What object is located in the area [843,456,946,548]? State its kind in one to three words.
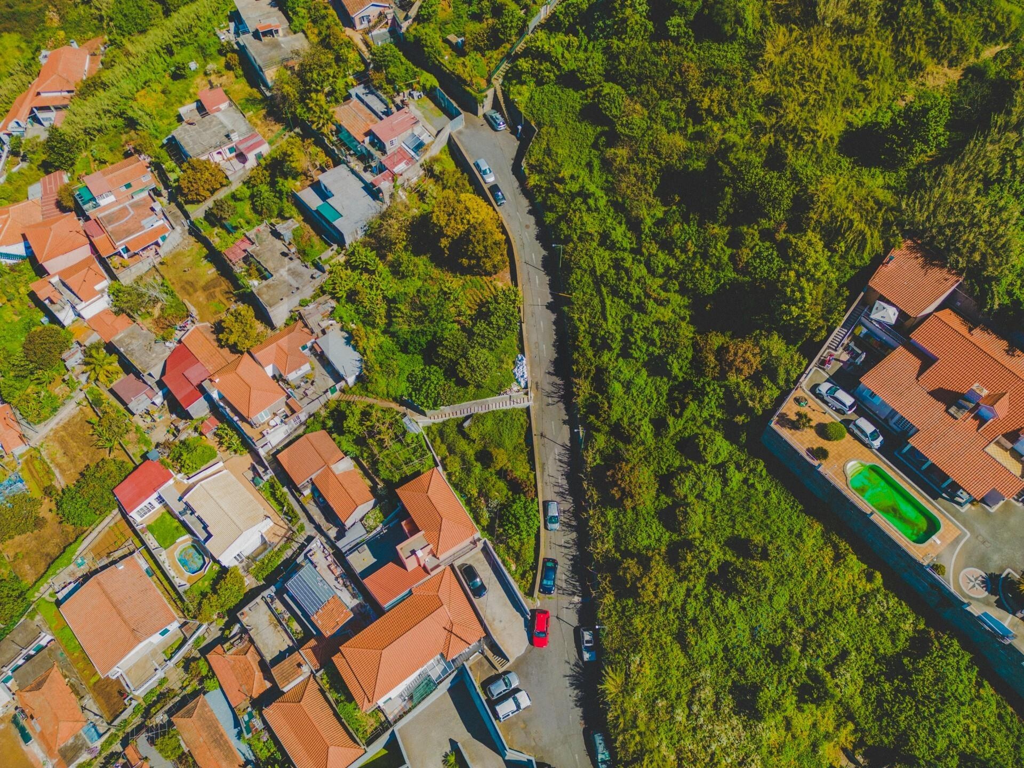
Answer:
swimming pool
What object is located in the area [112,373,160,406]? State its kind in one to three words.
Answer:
shed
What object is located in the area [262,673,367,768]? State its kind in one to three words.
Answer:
house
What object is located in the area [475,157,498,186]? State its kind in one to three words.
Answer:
car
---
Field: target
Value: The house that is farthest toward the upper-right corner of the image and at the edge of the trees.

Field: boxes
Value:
[857,238,963,333]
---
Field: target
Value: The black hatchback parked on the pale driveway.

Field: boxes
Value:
[457,563,487,600]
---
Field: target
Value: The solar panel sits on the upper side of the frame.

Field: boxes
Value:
[401,133,425,156]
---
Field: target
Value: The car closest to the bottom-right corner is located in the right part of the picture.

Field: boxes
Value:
[846,416,885,450]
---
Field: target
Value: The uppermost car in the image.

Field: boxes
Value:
[486,108,508,134]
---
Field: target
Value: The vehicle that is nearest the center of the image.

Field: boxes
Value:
[545,499,562,536]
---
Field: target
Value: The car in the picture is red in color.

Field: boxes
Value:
[530,610,549,651]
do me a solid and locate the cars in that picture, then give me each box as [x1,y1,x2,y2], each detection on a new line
[486,108,508,134]
[545,499,562,536]
[814,382,858,416]
[846,416,885,450]
[487,182,509,209]
[579,627,597,668]
[475,157,498,186]
[494,694,532,726]
[539,558,558,598]
[590,730,609,768]
[530,610,549,651]
[457,563,487,600]
[484,669,520,699]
